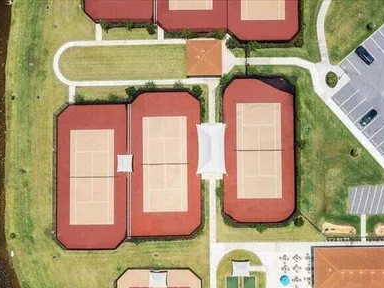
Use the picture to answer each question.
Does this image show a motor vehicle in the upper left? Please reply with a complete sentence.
No, in the upper left there is no motor vehicle.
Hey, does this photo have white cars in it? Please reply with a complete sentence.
No, no white car is visible in the scene.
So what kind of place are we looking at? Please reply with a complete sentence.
It's a sports ground.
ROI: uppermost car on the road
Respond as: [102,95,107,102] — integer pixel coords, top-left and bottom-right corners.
[357,46,373,64]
